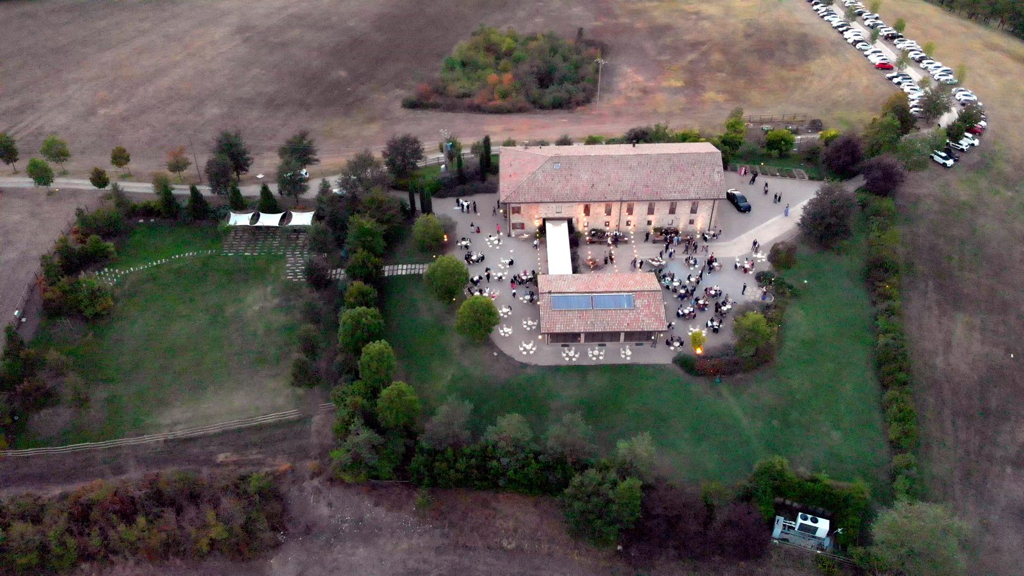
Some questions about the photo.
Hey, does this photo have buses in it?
No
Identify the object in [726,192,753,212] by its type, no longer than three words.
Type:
car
